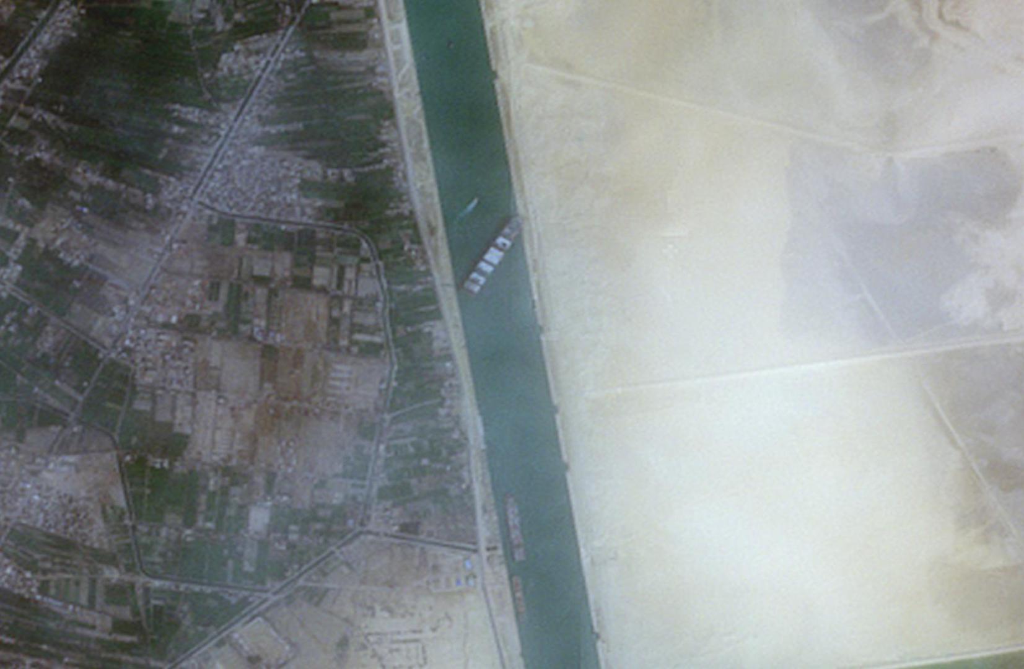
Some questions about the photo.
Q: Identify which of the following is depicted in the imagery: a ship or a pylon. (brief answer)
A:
ship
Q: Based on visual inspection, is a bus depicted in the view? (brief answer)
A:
No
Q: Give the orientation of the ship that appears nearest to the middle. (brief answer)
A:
on a diagonal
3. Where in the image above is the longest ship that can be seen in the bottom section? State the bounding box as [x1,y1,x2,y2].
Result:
[507,494,525,561]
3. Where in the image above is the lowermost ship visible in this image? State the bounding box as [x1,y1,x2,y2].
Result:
[513,576,526,618]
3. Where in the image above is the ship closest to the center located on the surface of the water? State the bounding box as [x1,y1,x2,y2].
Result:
[464,219,521,296]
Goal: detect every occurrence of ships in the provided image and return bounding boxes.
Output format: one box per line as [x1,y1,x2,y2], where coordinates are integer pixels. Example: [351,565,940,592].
[507,494,525,561]
[464,219,521,296]
[513,576,526,618]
